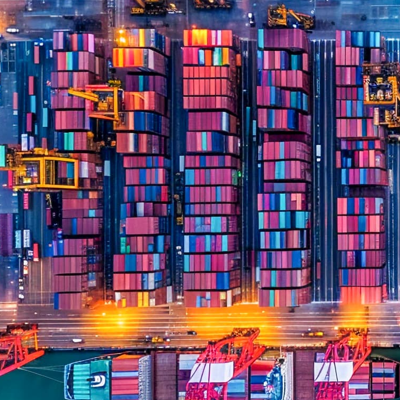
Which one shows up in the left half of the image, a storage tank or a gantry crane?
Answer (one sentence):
The one visible in the left half of the image is a gantry crane.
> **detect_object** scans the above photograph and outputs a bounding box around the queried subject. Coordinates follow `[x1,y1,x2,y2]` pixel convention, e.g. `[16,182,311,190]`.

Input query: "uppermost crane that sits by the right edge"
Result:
[364,66,400,141]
